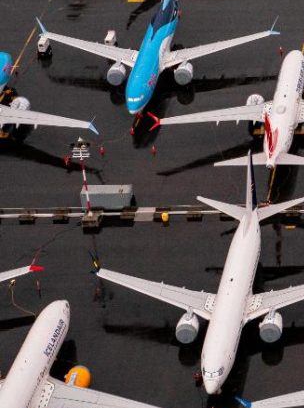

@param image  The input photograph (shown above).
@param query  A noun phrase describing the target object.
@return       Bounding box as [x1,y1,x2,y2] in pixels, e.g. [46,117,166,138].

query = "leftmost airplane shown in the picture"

[0,248,46,284]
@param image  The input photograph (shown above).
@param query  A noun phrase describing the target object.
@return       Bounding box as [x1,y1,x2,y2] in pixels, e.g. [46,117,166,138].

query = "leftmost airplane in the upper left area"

[0,54,99,139]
